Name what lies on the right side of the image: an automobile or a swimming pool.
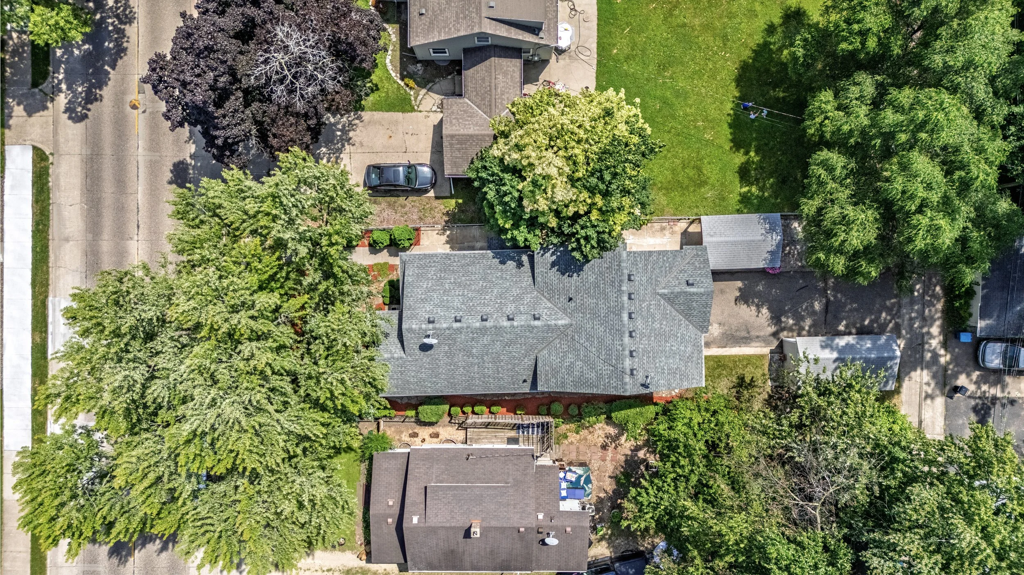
automobile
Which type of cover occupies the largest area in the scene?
trees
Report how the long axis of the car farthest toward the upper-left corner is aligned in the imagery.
from left to right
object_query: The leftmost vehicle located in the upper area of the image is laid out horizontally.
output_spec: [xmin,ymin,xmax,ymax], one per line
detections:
[365,161,437,195]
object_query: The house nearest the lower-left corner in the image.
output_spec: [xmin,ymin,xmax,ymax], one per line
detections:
[370,443,589,574]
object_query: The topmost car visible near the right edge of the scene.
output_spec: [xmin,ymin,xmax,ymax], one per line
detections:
[976,338,1024,373]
